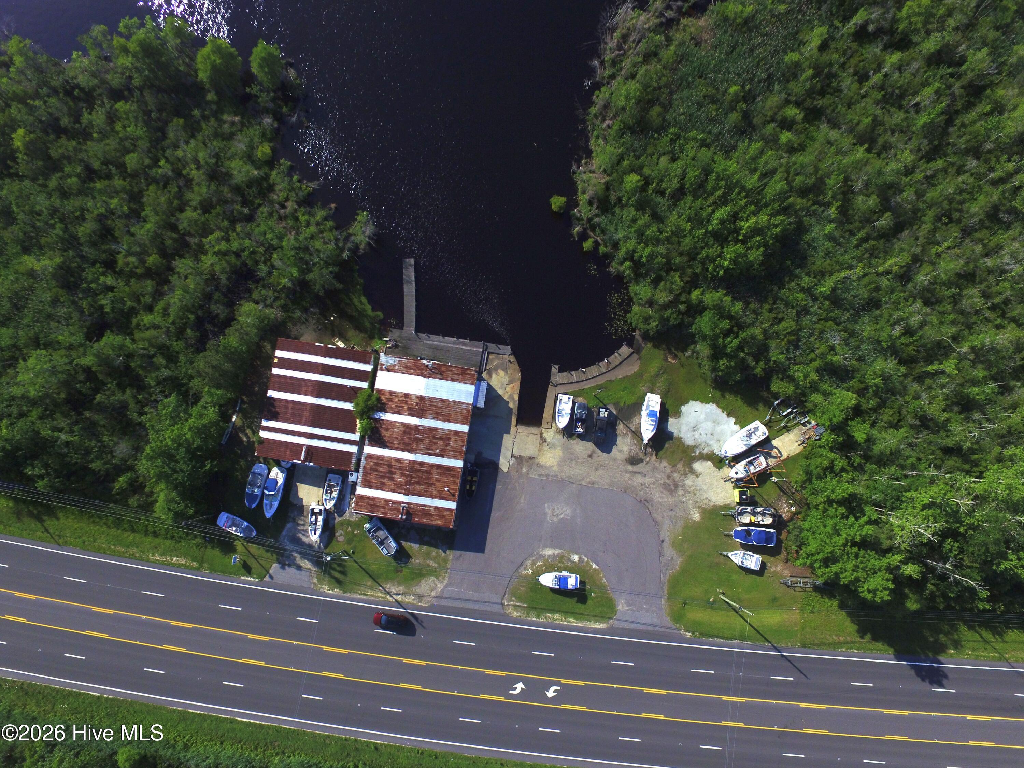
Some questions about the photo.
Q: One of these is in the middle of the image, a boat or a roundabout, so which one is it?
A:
boat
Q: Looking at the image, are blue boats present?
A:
Yes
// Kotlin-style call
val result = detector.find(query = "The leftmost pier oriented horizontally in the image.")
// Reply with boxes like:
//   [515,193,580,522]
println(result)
[385,329,513,377]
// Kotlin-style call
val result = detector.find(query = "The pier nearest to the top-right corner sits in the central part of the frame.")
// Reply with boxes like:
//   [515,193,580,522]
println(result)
[549,342,633,386]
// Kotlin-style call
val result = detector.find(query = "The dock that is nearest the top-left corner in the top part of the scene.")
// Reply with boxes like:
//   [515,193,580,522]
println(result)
[403,259,417,328]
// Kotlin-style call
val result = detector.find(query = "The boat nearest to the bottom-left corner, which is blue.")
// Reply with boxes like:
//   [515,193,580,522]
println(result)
[216,512,256,537]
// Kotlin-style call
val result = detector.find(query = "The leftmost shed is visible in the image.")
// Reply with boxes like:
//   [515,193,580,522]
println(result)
[256,338,374,471]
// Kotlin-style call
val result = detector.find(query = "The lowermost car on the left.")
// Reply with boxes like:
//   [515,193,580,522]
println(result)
[374,612,406,628]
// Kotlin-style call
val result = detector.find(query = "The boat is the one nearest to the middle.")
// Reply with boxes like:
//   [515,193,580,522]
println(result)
[555,394,573,429]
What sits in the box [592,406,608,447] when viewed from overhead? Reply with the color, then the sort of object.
black vehicle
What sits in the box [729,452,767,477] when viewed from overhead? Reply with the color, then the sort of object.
white boat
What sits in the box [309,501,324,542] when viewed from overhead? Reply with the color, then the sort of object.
white boat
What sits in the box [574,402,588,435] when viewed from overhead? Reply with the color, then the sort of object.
black vehicle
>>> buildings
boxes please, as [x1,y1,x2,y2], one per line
[352,355,477,529]
[256,338,374,471]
